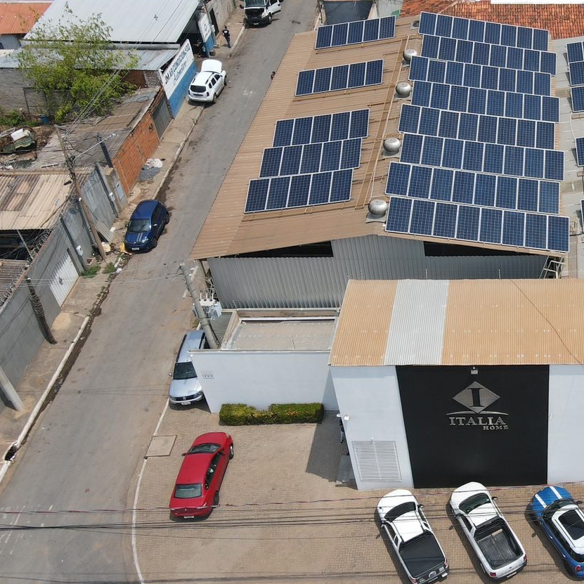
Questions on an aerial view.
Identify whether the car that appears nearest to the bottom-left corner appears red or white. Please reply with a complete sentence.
From above, the car that appears nearest to the bottom-left corner appears red.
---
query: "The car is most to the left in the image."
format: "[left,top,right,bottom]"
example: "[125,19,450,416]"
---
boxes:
[120,198,171,249]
